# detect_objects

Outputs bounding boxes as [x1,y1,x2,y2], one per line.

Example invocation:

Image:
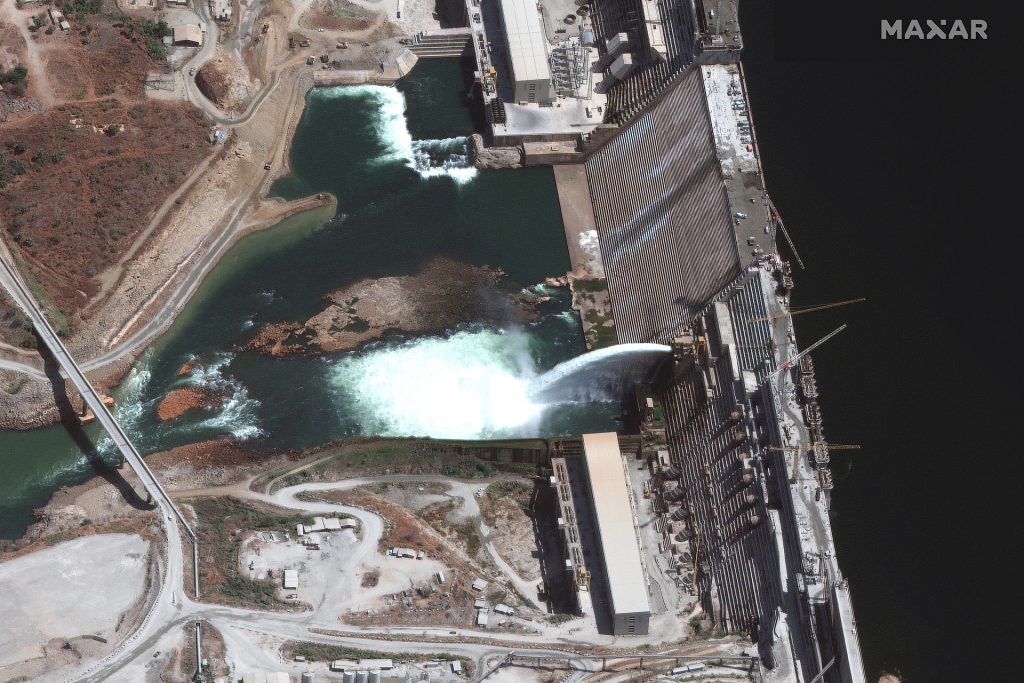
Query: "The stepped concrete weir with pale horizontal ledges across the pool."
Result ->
[408,27,469,62]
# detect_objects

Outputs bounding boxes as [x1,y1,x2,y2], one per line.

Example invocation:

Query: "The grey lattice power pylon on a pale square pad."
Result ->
[145,79,173,100]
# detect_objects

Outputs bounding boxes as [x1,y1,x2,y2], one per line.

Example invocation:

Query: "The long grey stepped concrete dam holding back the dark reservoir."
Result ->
[553,0,866,683]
